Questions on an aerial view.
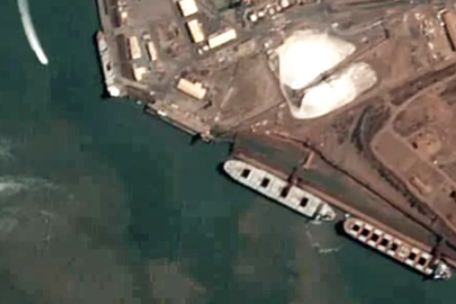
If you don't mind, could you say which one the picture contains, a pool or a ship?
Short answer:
ship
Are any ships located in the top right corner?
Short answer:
No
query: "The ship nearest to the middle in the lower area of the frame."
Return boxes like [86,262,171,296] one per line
[222,157,338,221]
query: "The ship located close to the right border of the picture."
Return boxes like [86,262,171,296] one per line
[344,217,454,279]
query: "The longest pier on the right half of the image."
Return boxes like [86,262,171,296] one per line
[232,151,450,264]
